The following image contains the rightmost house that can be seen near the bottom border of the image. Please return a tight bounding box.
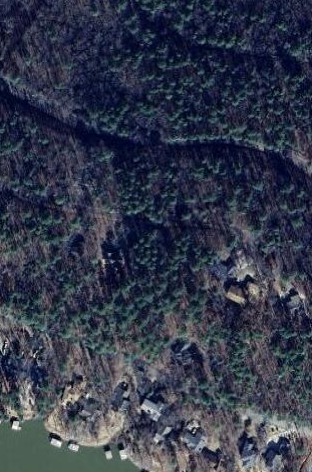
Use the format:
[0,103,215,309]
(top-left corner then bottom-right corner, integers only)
[260,440,293,467]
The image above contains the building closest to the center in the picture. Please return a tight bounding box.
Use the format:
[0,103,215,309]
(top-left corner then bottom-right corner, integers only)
[104,244,123,265]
